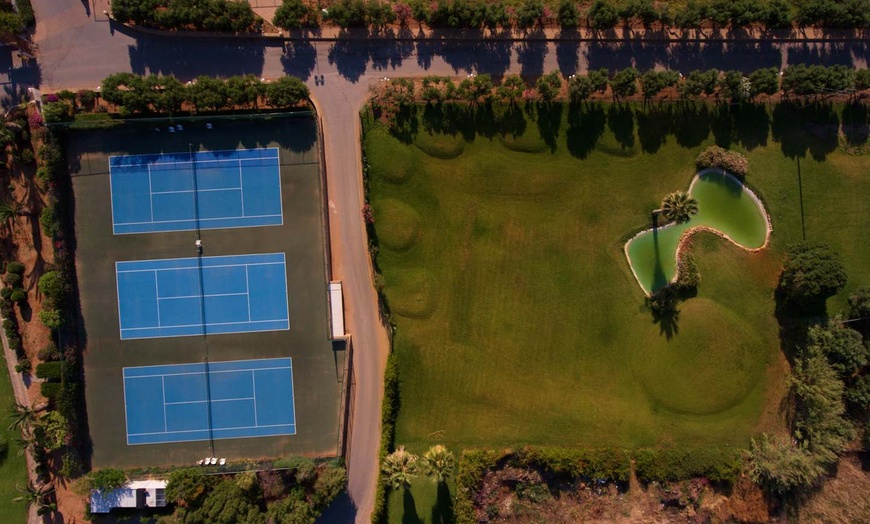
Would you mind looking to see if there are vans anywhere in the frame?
No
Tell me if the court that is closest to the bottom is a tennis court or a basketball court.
tennis court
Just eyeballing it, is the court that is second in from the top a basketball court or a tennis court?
tennis court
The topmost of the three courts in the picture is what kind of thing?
tennis court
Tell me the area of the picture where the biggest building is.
bottom left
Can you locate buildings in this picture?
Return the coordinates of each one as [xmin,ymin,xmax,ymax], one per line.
[329,280,353,339]
[91,480,173,514]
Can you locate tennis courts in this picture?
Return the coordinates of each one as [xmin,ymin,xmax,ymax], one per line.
[109,144,283,236]
[123,356,296,448]
[116,251,289,342]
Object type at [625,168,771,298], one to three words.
pond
